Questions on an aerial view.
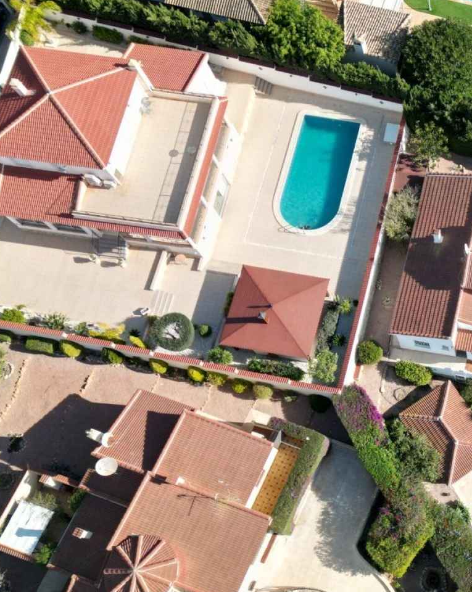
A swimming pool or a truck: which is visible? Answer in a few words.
swimming pool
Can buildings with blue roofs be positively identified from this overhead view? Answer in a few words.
No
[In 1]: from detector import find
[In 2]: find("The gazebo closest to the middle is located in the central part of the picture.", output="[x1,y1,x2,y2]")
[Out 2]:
[220,264,334,361]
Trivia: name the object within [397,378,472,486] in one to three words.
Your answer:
building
